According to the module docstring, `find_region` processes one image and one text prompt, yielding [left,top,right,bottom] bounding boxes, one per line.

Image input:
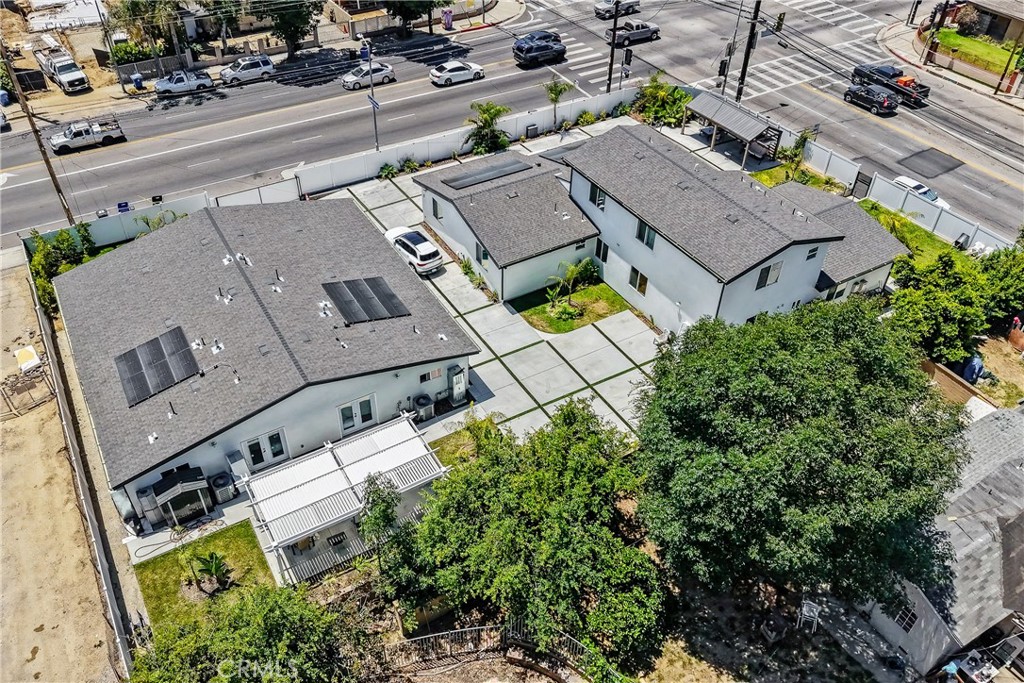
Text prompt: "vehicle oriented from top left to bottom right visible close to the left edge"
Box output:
[35,33,90,91]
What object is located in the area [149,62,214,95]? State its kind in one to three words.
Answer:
truck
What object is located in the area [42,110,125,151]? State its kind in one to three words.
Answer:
truck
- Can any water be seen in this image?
No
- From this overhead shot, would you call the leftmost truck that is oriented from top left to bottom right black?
No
